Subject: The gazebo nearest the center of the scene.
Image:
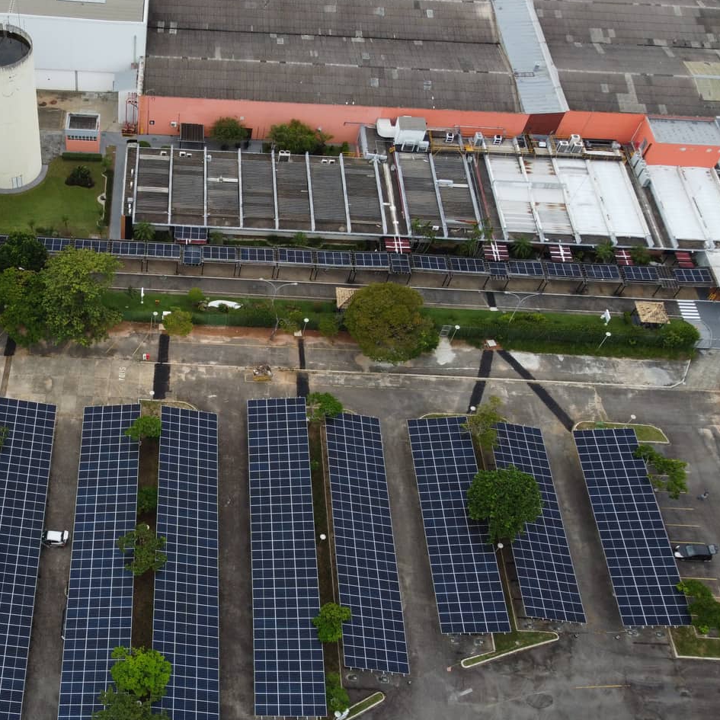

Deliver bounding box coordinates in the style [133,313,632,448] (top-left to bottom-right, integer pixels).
[333,287,361,320]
